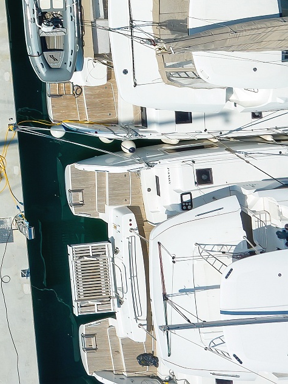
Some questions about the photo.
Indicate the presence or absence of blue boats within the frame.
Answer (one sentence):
No, there's no blue boat here.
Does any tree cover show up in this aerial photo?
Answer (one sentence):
No, the picture contains no tree cover.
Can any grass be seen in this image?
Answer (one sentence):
No, grass can't be seen anywhere here.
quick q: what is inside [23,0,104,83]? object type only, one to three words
boat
